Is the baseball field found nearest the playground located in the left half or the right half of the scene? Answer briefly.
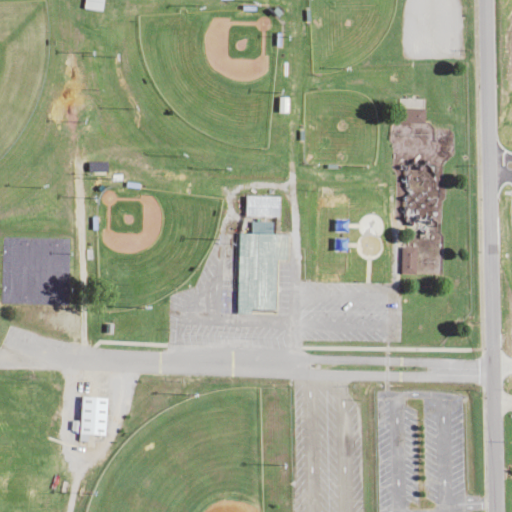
right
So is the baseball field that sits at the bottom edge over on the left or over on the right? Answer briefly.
left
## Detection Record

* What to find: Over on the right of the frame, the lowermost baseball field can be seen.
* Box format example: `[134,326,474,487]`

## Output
[304,90,378,166]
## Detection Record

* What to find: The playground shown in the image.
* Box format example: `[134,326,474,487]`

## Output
[401,154,442,239]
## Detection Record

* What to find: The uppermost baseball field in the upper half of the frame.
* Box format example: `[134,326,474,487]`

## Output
[310,0,397,74]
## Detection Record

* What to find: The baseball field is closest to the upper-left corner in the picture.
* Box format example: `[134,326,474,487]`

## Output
[0,0,50,160]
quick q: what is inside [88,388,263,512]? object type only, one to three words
baseball field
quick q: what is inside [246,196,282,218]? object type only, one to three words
shed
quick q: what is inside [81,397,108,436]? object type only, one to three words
building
